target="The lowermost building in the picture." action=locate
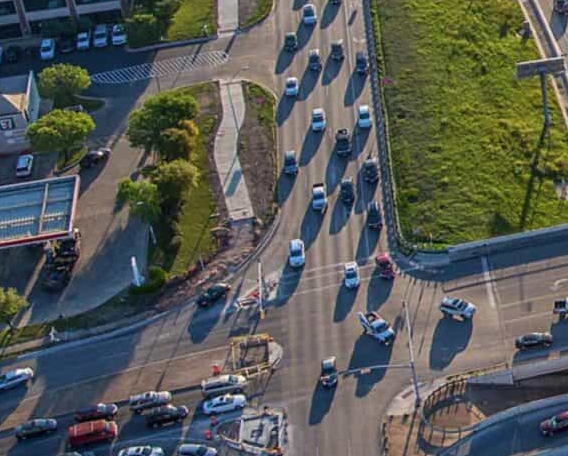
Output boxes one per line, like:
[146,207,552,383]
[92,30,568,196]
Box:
[0,63,42,153]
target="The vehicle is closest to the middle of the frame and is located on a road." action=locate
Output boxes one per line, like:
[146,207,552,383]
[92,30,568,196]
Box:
[287,240,305,265]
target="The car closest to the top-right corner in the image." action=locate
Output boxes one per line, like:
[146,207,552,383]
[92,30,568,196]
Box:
[552,0,568,13]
